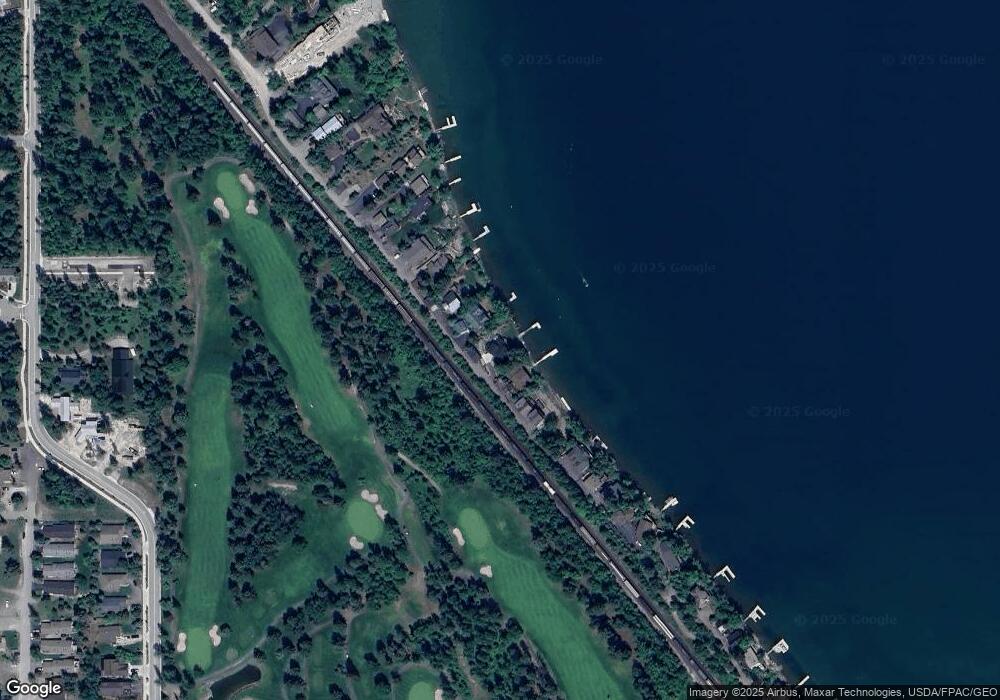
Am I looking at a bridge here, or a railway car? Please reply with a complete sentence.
Looking from above, you can make out a railway car.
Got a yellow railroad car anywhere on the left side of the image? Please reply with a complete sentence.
No, there is no yellow railroad car on the left side of the image.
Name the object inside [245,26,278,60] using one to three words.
house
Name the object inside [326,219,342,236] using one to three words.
rail car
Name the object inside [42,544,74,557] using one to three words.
house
